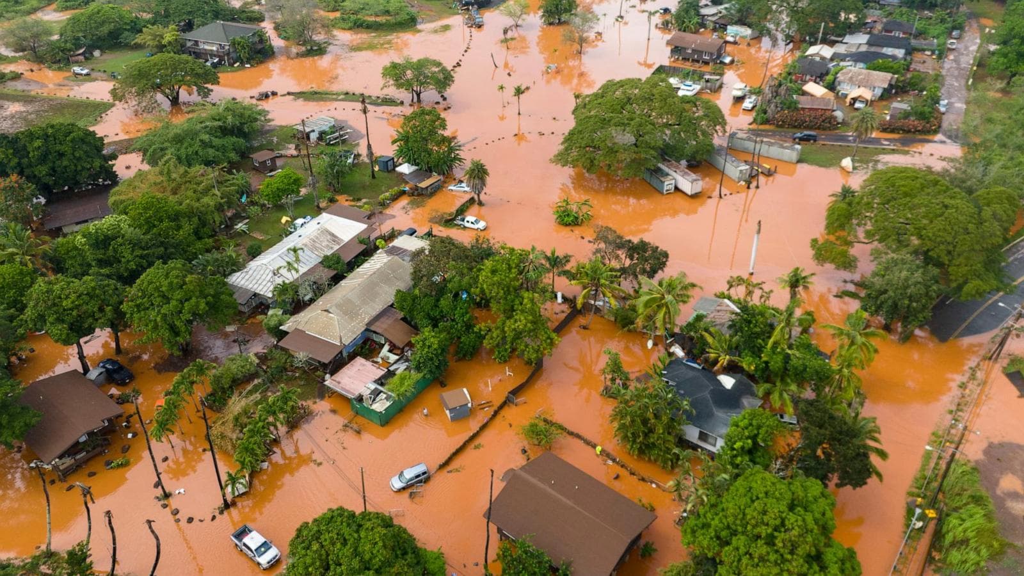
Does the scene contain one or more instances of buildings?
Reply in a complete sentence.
Yes, the photo shows a building.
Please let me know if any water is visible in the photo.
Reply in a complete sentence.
Yes, there's water in this view.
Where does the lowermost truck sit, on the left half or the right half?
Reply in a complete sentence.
You can find the lowermost truck on the left side of the picture.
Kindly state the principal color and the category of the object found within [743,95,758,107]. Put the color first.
white vehicle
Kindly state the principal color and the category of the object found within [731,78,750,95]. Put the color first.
white boat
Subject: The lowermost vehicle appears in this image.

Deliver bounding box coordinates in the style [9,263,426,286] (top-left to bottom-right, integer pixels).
[229,525,279,567]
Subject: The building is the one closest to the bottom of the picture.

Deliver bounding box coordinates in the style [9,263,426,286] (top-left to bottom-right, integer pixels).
[482,454,660,576]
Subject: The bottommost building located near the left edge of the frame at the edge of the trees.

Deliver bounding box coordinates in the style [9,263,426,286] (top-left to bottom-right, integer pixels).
[14,373,128,480]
